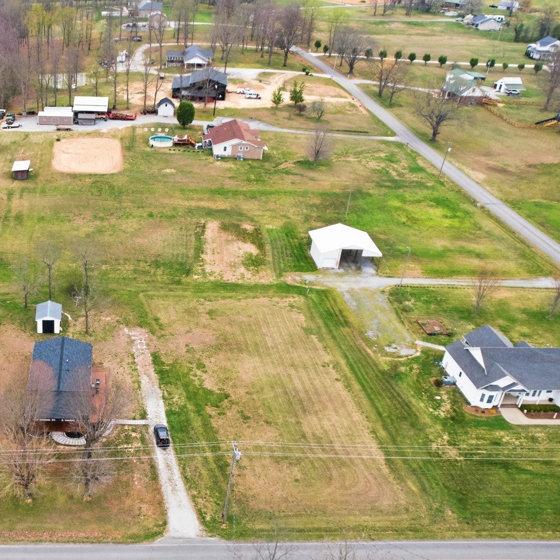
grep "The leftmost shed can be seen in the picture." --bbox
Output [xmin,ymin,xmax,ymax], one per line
[10,160,29,179]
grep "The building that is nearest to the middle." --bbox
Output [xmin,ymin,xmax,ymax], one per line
[306,223,382,269]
